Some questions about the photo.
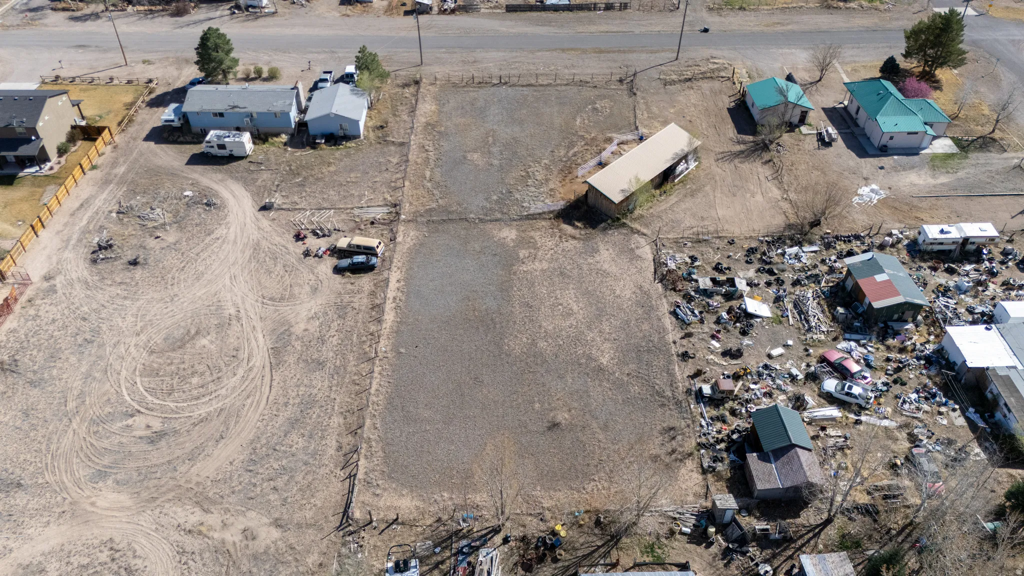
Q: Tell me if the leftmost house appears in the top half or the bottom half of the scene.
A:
top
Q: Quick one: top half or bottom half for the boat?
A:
bottom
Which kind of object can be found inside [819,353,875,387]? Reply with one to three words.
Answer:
car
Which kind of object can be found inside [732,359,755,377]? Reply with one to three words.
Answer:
work vehicle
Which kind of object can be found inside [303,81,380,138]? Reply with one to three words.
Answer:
building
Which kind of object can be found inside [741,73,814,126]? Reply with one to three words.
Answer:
shed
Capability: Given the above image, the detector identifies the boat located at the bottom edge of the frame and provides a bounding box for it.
[384,538,419,576]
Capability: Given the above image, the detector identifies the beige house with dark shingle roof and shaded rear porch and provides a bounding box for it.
[0,91,94,177]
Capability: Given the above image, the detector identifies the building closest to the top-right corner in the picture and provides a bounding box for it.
[844,79,952,149]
